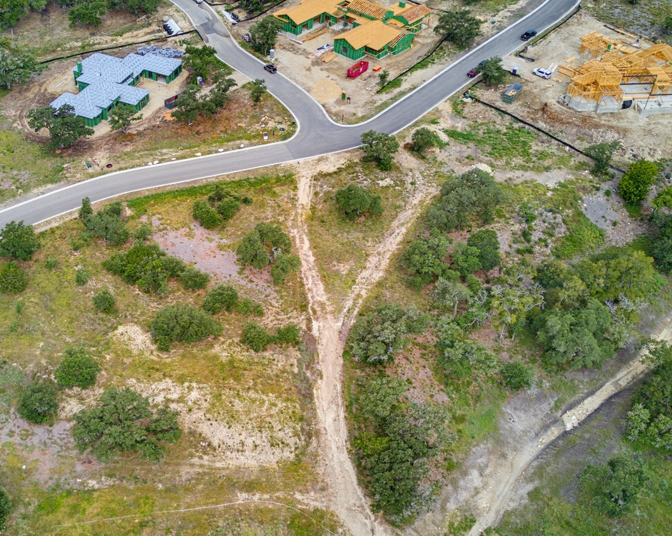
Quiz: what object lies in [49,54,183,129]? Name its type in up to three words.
house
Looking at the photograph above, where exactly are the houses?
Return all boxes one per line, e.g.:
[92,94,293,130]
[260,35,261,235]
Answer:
[266,0,434,61]
[49,54,183,129]
[562,38,672,115]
